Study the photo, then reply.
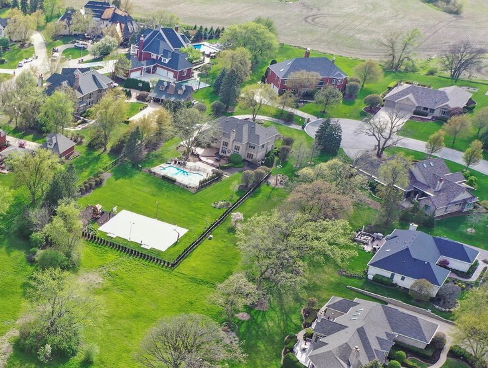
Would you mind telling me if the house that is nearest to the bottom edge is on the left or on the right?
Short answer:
right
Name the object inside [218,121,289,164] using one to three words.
house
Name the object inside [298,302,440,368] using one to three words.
house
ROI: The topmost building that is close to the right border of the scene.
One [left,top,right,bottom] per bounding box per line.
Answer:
[381,79,480,121]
